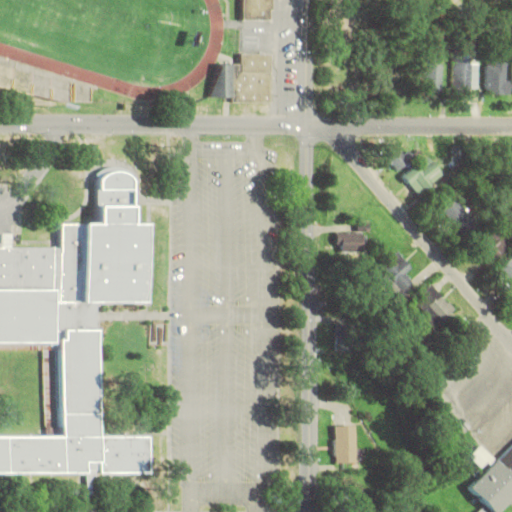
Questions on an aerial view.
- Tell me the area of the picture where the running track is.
top left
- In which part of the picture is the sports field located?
top left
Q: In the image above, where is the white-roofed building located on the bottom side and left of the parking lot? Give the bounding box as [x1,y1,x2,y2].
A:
[0,166,154,478]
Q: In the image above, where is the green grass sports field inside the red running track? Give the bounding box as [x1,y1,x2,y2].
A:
[0,0,210,86]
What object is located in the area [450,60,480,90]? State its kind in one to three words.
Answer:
house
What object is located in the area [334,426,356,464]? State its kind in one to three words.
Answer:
house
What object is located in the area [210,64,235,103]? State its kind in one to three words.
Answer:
building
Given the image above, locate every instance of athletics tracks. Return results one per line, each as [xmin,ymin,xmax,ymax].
[0,0,224,99]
